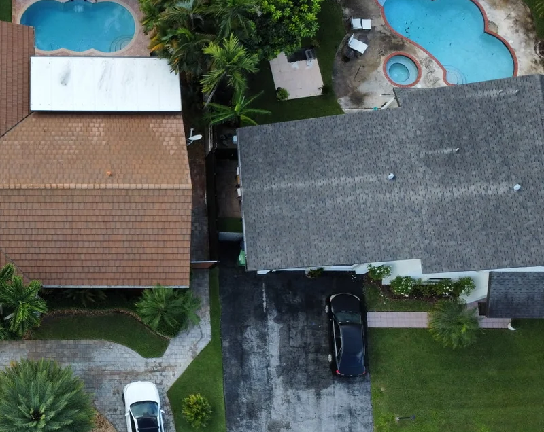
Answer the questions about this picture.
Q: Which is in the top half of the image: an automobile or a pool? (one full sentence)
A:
Looking in the top half of the image, you will find a pool.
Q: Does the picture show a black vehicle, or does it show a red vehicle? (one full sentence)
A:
Looking from above, you can make out a black vehicle.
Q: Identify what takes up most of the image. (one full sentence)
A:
What you mostly see from above here is buildings.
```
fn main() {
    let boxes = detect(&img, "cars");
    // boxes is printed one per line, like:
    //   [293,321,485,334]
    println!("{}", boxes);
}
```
[323,293,371,378]
[123,380,168,432]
